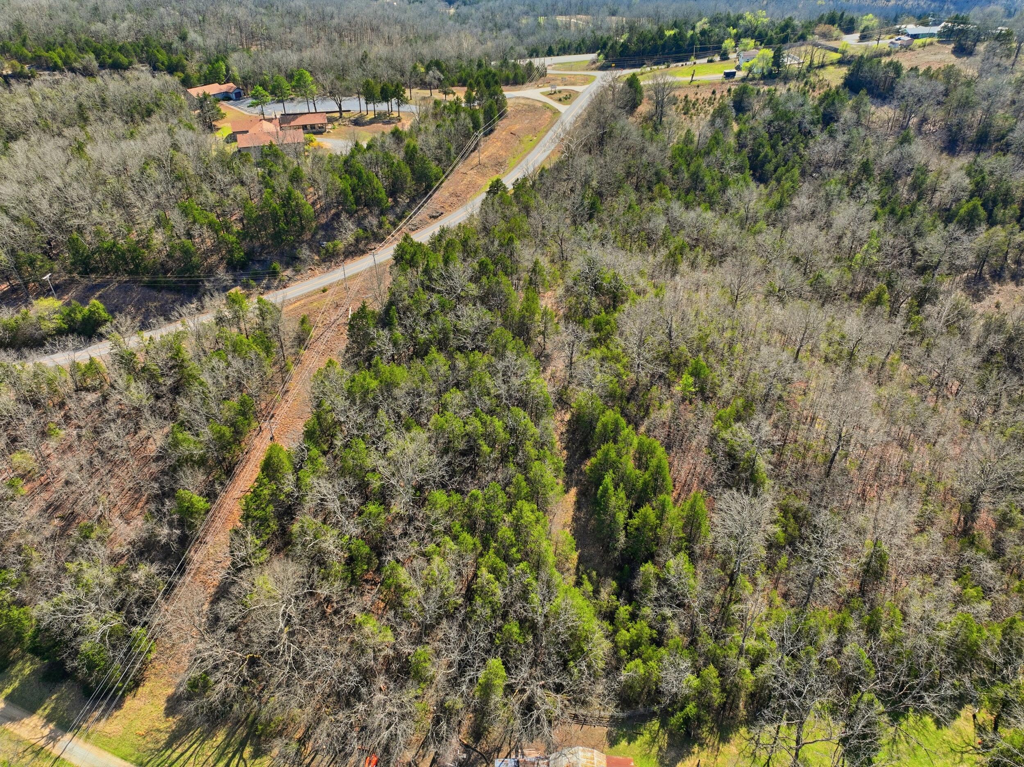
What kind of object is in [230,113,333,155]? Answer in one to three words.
building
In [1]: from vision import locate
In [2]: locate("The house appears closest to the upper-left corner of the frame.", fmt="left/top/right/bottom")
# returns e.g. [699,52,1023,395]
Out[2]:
[190,83,249,101]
